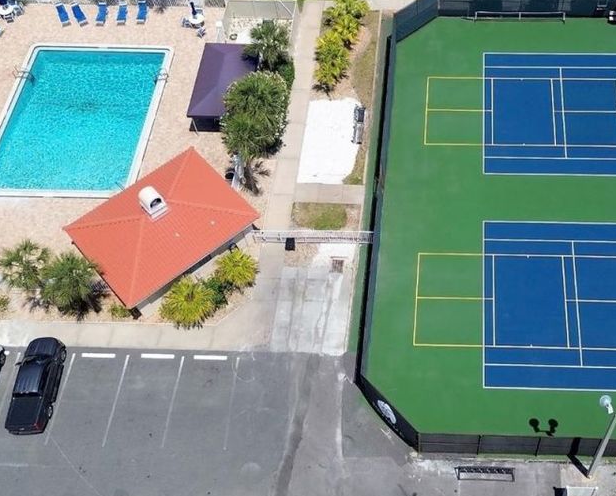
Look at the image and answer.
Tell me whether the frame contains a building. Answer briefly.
Yes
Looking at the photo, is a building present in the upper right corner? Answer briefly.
No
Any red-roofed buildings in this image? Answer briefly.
Yes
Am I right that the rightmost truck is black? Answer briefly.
Yes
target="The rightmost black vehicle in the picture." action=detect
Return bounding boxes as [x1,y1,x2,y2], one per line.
[4,335,68,435]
